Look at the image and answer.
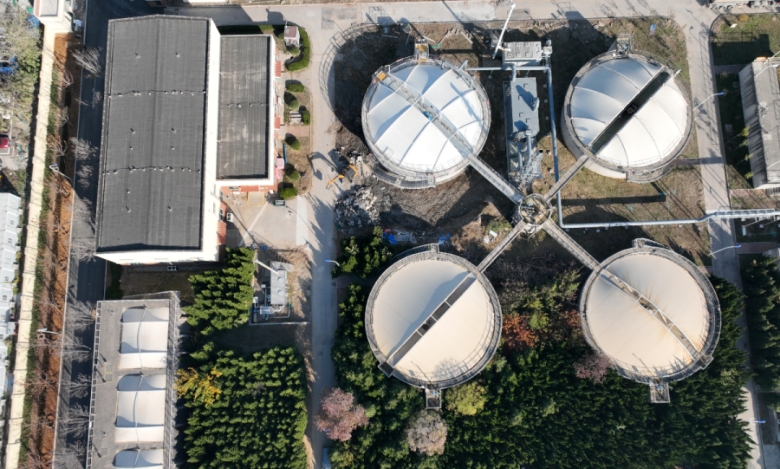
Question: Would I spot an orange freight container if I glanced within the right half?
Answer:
No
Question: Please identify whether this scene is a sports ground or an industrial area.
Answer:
industrial area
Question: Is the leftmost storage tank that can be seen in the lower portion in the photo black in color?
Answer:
No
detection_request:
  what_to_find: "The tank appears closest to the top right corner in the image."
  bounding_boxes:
[558,36,696,191]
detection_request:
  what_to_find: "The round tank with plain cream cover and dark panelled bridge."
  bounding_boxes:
[366,244,503,409]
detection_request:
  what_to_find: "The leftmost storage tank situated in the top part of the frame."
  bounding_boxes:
[362,35,491,195]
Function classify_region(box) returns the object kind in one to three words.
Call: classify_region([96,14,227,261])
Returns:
building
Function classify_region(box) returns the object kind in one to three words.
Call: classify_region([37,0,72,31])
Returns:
building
